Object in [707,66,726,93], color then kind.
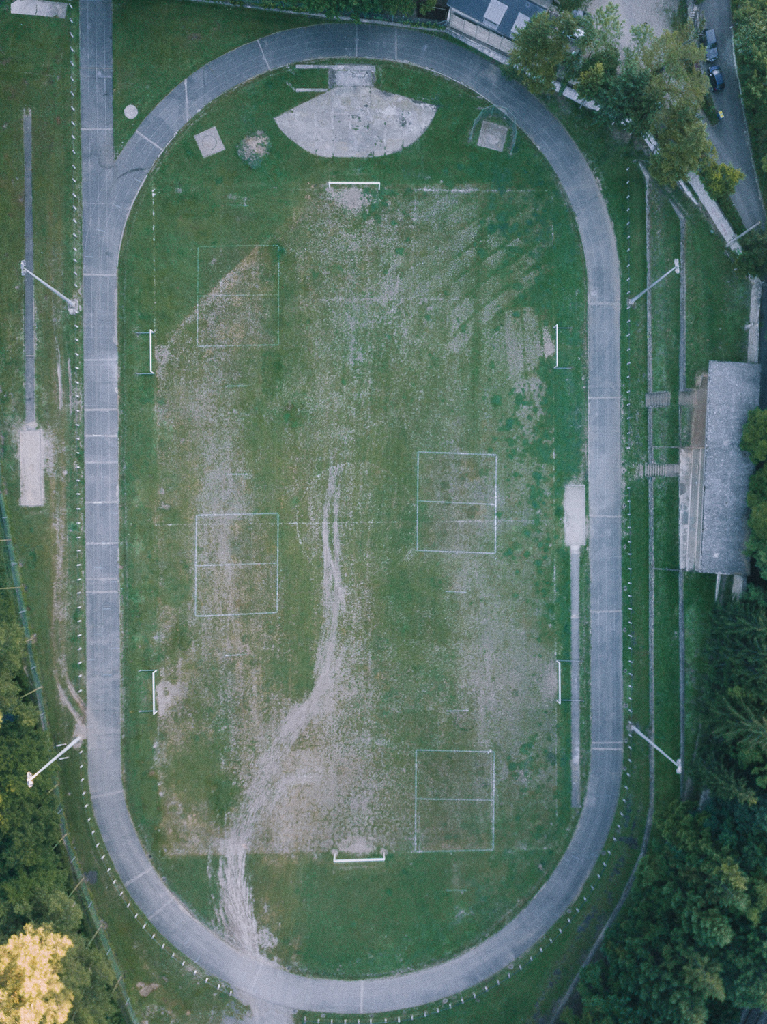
blue car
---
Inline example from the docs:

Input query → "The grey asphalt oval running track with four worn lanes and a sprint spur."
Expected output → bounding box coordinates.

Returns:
[80,0,624,1014]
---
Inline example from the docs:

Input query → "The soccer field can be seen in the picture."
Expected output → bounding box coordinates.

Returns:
[116,57,592,981]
